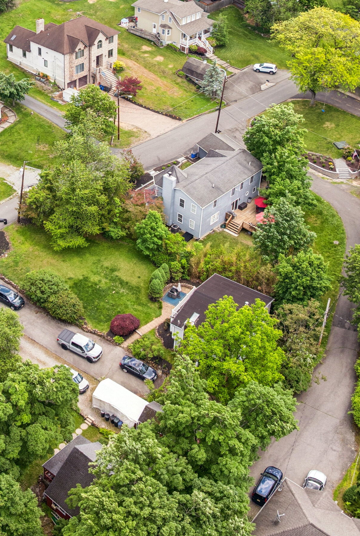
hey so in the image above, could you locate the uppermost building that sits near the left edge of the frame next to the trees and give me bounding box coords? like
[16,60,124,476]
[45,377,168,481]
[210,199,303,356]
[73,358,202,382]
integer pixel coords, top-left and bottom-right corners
[2,15,127,90]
